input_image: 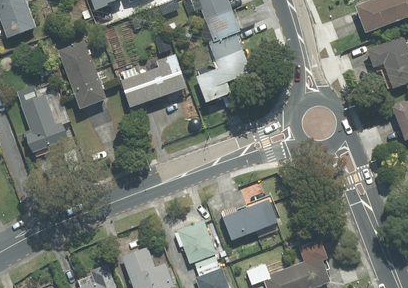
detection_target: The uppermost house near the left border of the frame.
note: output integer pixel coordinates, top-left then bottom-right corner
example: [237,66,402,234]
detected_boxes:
[0,0,36,38]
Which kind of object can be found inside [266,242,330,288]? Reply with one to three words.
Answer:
house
